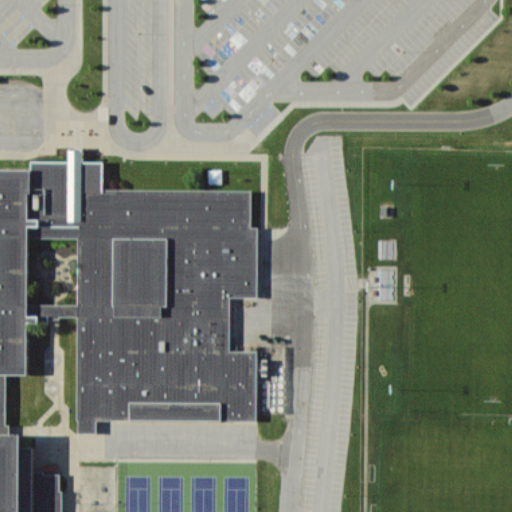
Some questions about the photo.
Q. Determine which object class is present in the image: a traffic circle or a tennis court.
tennis court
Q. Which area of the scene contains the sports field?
right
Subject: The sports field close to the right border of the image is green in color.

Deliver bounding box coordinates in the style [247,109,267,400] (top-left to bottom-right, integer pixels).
[442,153,512,416]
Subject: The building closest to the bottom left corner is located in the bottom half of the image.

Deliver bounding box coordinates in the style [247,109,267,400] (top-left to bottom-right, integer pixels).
[0,377,62,512]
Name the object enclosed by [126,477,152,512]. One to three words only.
tennis court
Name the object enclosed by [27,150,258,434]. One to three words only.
building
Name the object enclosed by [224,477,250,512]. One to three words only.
tennis court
